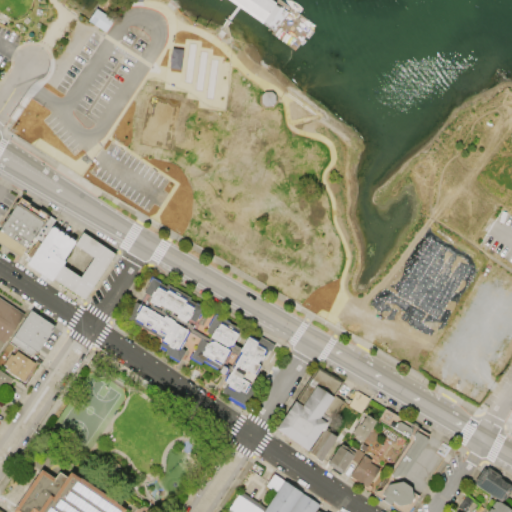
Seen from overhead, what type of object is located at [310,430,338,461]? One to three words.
house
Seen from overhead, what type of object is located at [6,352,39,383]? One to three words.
house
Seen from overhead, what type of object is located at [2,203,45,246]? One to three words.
building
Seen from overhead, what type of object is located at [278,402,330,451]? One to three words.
building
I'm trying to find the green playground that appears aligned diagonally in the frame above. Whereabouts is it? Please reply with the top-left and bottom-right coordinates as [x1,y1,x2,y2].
[146,440,192,500]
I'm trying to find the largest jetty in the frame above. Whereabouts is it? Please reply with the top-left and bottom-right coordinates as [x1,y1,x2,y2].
[272,8,316,51]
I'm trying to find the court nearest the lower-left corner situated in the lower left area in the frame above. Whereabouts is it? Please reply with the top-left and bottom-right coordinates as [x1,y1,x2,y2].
[57,370,126,447]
